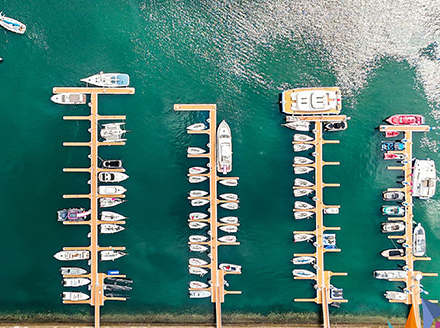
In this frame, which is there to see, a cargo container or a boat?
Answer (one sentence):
The image shows a boat.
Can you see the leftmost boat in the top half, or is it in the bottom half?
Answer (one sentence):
The leftmost boat sits in the top half of the picture.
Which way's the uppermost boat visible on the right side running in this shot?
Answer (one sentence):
The uppermost boat visible on the right side is laid out from side to side.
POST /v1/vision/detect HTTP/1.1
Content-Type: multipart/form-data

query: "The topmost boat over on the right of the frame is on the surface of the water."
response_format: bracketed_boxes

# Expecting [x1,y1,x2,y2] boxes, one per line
[278,87,342,116]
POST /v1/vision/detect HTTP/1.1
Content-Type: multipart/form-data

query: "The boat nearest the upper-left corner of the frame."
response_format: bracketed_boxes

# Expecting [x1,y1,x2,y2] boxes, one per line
[0,12,27,35]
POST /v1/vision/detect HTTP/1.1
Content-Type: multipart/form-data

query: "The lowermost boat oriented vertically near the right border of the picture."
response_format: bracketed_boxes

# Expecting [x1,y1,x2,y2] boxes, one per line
[413,225,426,256]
